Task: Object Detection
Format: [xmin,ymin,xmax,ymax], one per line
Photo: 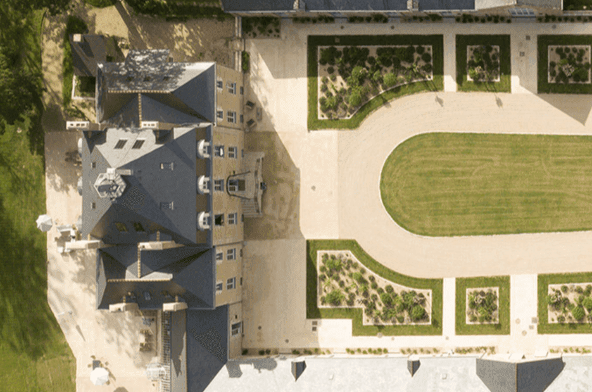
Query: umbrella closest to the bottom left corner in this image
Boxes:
[91,367,110,385]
